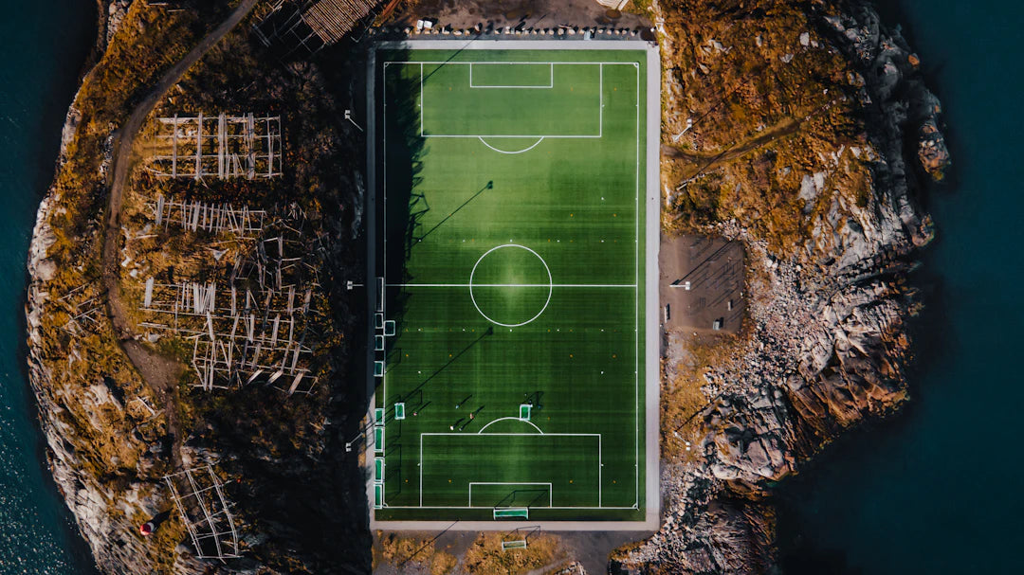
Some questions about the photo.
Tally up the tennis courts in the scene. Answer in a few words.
0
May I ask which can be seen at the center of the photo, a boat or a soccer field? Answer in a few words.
soccer field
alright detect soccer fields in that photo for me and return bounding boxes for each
[376,49,647,521]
